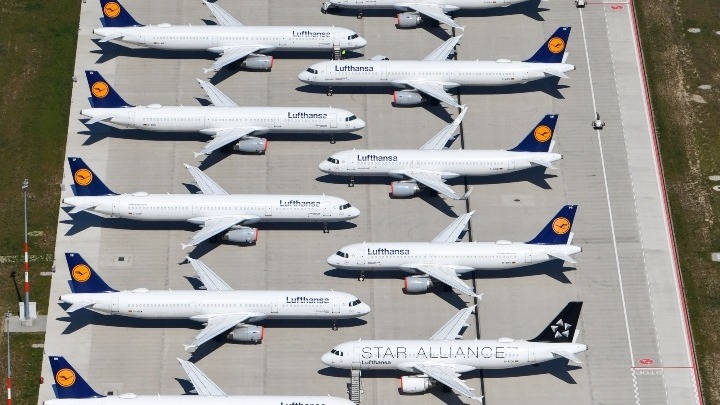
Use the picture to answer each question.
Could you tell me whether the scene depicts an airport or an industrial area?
airport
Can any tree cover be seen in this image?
No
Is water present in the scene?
No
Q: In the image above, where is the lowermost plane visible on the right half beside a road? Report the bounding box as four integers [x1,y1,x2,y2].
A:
[321,301,590,401]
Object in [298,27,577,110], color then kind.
white airplane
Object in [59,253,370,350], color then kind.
white airplane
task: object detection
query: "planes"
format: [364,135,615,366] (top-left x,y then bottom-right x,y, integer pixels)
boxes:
[61,158,359,249]
[319,105,565,200]
[79,71,365,157]
[321,301,590,401]
[298,27,577,110]
[326,206,584,300]
[329,0,518,29]
[59,253,370,350]
[92,0,366,75]
[44,356,358,405]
